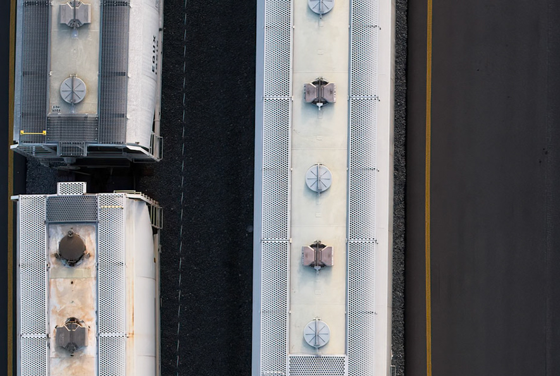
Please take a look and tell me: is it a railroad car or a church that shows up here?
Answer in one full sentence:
Looking from above, you can make out a railroad car.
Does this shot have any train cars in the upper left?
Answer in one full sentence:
Yes, there is a train car in the upper left.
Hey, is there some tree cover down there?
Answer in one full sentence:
No, the picture contains no tree cover.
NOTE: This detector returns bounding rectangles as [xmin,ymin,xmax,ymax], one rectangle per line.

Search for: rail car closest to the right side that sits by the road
[254,0,401,376]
